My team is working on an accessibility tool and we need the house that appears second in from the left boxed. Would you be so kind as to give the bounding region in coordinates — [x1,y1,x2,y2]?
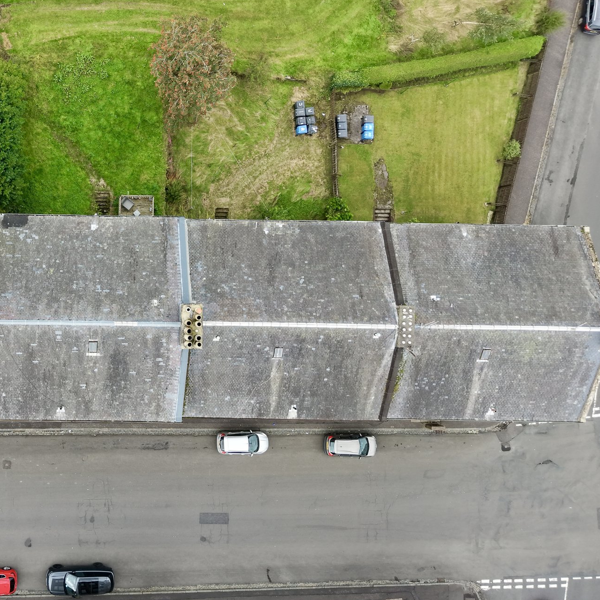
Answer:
[182,216,420,422]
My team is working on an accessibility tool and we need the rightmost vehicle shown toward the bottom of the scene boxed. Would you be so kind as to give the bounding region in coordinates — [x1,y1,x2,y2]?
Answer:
[323,431,377,462]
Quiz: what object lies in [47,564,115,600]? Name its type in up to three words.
car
